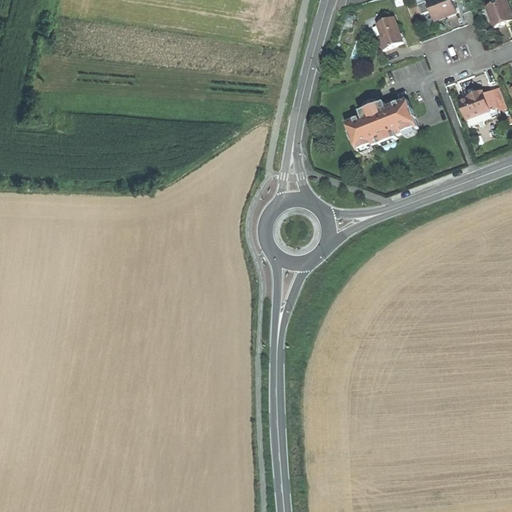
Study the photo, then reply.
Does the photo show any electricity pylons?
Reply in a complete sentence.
No, I find no electricity pylon anywhere in the image.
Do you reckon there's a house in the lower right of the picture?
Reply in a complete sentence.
No, looking in the lower right of the picture, there is no house.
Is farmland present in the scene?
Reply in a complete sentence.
Yes, the picture does contain farmland.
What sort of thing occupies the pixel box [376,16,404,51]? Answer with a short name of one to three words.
house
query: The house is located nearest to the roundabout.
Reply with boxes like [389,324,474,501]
[344,98,420,155]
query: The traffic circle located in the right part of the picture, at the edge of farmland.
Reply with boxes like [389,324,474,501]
[252,126,384,350]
